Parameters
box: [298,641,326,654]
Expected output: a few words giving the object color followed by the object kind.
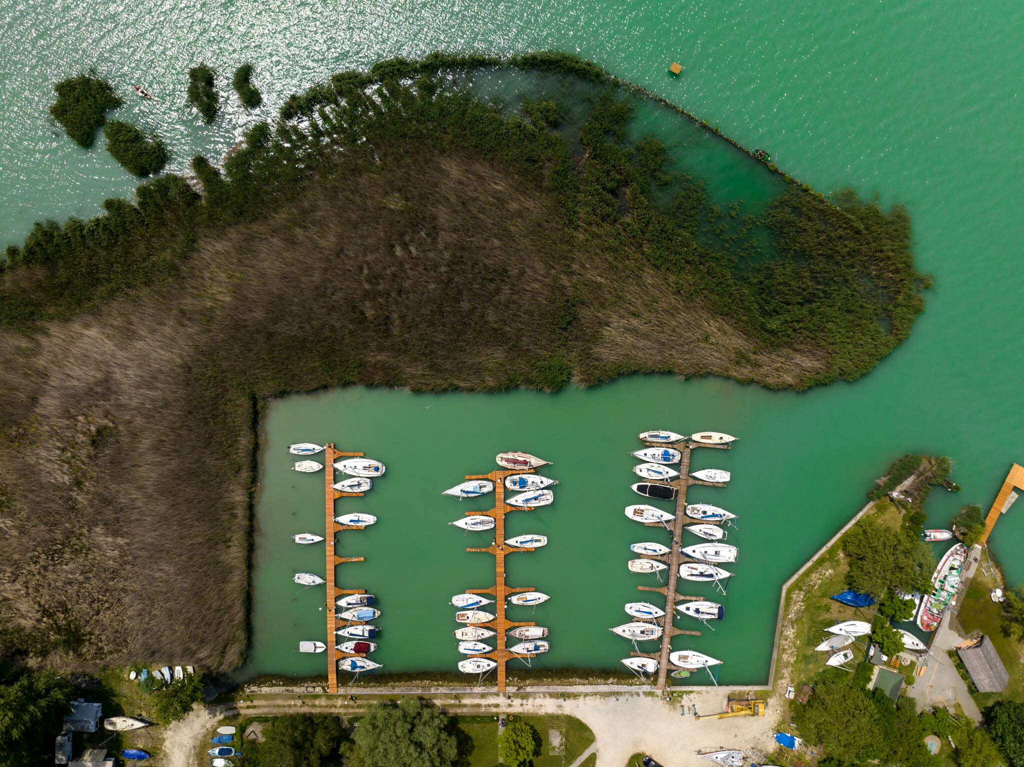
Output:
white boat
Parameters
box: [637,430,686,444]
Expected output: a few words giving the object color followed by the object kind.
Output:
white boat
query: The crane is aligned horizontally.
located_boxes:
[692,691,768,721]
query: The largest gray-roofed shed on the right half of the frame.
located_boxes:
[953,635,1009,692]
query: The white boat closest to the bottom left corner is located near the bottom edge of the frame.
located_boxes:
[97,713,148,749]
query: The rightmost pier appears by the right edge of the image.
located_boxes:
[977,464,1024,546]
